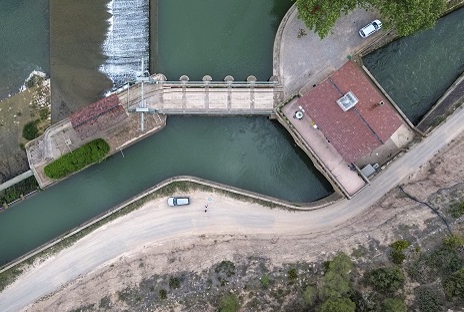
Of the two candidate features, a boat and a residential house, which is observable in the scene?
residential house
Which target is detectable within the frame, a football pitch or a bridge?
bridge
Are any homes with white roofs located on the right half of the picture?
No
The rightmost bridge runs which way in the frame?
from side to side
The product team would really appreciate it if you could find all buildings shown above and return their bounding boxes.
[298,61,404,162]
[70,93,128,140]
